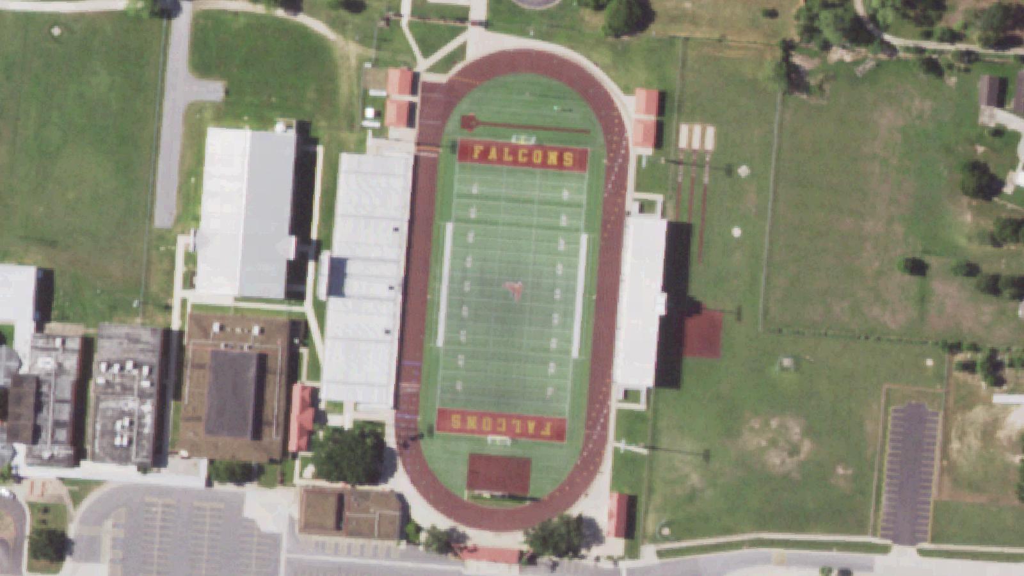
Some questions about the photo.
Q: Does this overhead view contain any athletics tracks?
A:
Yes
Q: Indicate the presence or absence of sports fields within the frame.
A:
Yes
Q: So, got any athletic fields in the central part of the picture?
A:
Yes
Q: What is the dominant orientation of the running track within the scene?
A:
up and down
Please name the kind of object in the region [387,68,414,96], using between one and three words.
shed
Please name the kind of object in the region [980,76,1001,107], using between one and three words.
house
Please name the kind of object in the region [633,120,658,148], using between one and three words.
shed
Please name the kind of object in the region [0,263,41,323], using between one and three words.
building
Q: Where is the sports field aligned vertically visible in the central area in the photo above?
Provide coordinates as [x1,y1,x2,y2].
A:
[420,75,605,506]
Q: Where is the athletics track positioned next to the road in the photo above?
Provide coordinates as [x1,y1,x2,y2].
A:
[397,52,628,530]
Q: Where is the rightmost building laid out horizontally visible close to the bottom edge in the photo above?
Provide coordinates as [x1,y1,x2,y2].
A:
[456,543,520,564]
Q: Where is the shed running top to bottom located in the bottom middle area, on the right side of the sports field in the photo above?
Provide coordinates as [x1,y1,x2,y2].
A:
[607,492,629,538]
